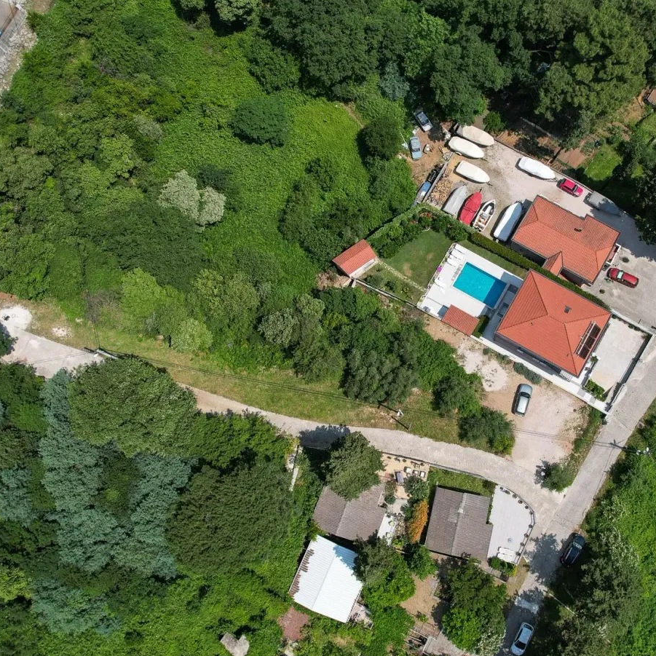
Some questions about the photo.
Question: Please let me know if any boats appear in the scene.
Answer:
Yes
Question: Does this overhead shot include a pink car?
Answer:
Yes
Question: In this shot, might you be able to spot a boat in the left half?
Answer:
No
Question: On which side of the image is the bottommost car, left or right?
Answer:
right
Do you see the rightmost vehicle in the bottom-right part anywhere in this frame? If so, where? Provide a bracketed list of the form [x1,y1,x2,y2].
[559,533,585,566]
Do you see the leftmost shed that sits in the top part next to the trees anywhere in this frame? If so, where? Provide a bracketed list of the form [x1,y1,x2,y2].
[337,240,377,279]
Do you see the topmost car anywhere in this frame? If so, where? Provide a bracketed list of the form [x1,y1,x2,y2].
[413,110,432,133]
